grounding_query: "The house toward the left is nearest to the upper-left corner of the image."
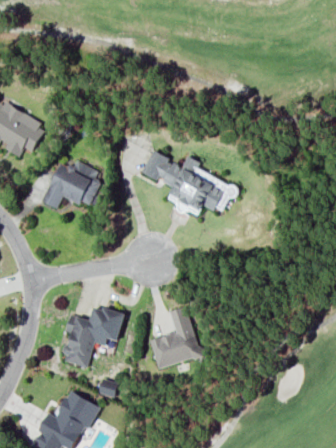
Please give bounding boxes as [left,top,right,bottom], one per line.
[0,101,46,158]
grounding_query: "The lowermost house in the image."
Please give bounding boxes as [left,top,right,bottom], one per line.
[38,394,98,448]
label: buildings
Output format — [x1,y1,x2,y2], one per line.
[100,380,119,398]
[43,158,104,209]
[38,394,98,448]
[61,306,126,366]
[152,308,205,367]
[0,101,46,158]
[142,150,240,216]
